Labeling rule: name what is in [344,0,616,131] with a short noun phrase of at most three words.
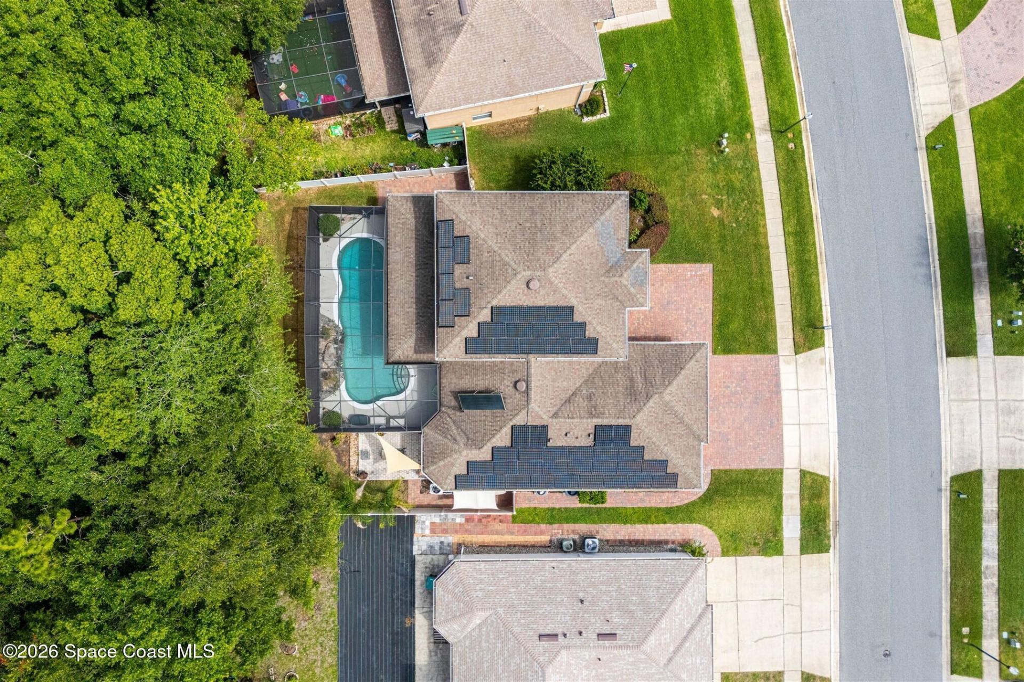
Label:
house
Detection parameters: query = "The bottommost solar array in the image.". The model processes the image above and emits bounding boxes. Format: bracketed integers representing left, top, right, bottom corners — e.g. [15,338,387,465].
[455,426,681,490]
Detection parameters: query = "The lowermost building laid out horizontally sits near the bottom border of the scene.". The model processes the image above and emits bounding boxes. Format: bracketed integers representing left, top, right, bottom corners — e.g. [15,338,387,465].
[432,554,715,682]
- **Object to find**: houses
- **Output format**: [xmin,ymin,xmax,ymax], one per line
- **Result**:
[344,0,616,131]
[385,190,710,493]
[432,554,715,682]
